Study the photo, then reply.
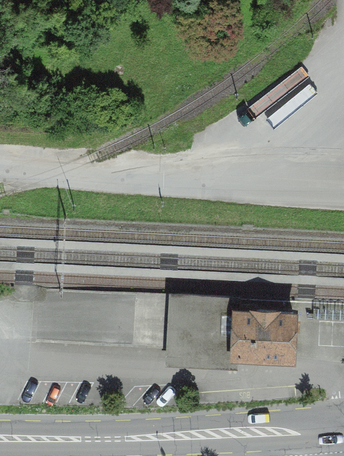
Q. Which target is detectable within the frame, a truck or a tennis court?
truck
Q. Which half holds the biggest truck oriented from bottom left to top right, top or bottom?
top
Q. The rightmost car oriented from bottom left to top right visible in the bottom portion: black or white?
white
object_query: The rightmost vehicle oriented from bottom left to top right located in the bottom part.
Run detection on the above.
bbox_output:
[156,384,177,408]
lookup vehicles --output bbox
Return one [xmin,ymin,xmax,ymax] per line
[140,382,162,406]
[76,378,92,404]
[21,376,38,402]
[47,381,62,405]
[318,433,344,446]
[238,65,310,130]
[248,412,270,424]
[156,384,177,408]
